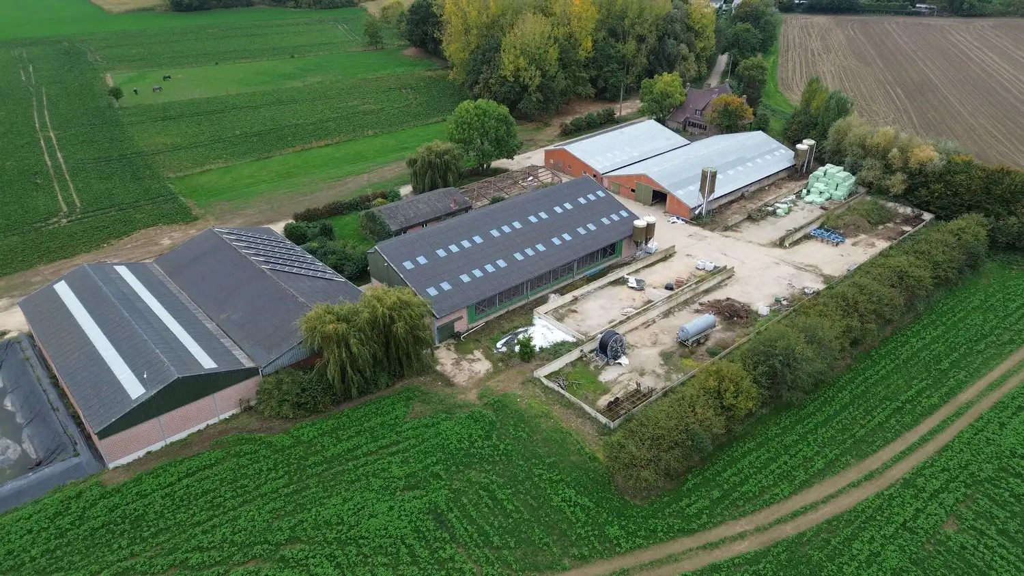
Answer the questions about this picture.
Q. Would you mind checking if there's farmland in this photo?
Yes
